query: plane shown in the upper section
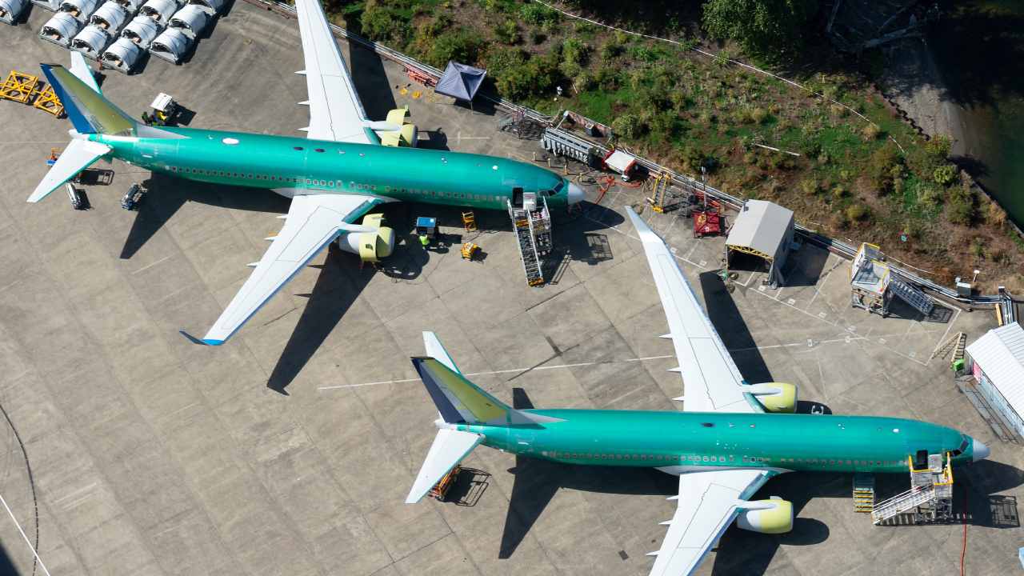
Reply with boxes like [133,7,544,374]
[28,0,584,349]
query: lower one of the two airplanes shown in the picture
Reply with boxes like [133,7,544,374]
[406,206,990,576]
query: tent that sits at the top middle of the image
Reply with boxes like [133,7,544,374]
[434,61,489,119]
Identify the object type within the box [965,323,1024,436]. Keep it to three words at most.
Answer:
building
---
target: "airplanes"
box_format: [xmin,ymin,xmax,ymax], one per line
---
[406,206,990,576]
[28,0,584,349]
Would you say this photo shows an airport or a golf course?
airport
